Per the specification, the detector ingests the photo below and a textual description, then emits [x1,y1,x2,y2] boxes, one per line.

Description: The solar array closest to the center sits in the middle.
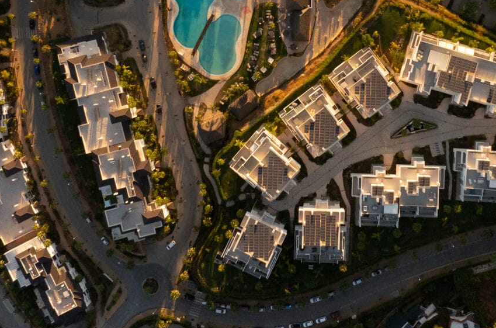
[262,152,289,190]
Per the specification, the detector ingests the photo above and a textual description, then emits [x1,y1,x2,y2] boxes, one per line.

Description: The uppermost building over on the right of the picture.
[286,0,312,42]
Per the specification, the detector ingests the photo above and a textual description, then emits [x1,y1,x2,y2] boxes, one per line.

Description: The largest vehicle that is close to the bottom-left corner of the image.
[1,299,14,315]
